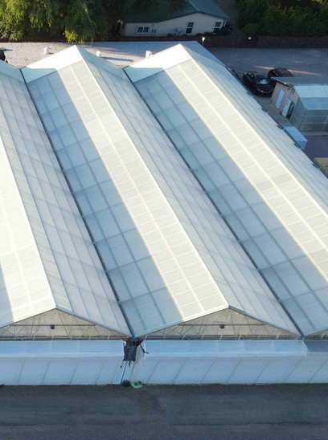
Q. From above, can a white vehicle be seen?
No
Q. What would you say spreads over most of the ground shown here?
buildings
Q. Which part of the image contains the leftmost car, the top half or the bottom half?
top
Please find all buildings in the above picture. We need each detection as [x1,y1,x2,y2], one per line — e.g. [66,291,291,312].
[267,78,328,131]
[0,45,328,386]
[101,0,239,35]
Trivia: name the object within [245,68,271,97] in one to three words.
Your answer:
car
